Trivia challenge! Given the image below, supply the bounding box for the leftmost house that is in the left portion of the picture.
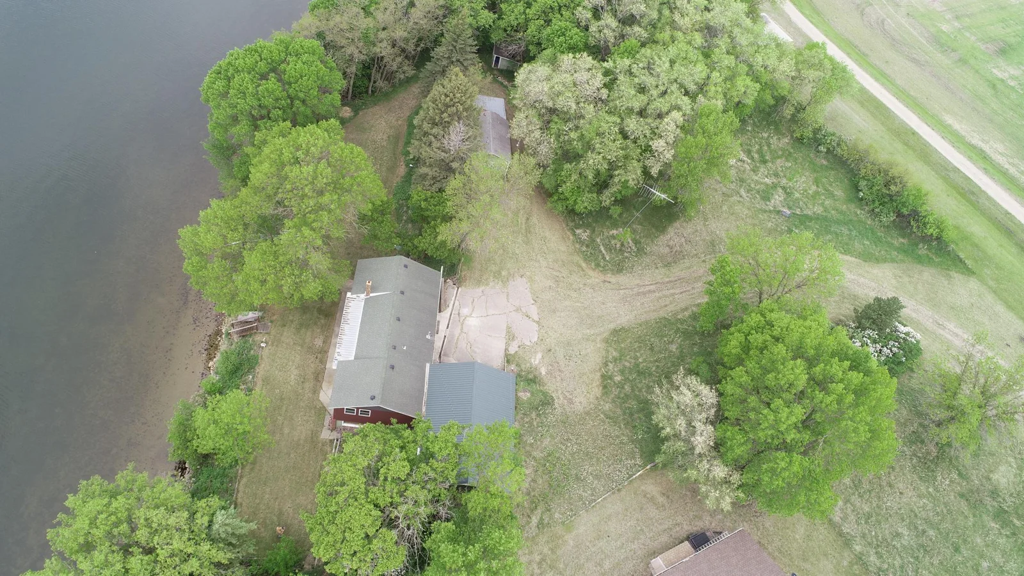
[328,255,442,428]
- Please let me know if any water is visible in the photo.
Yes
